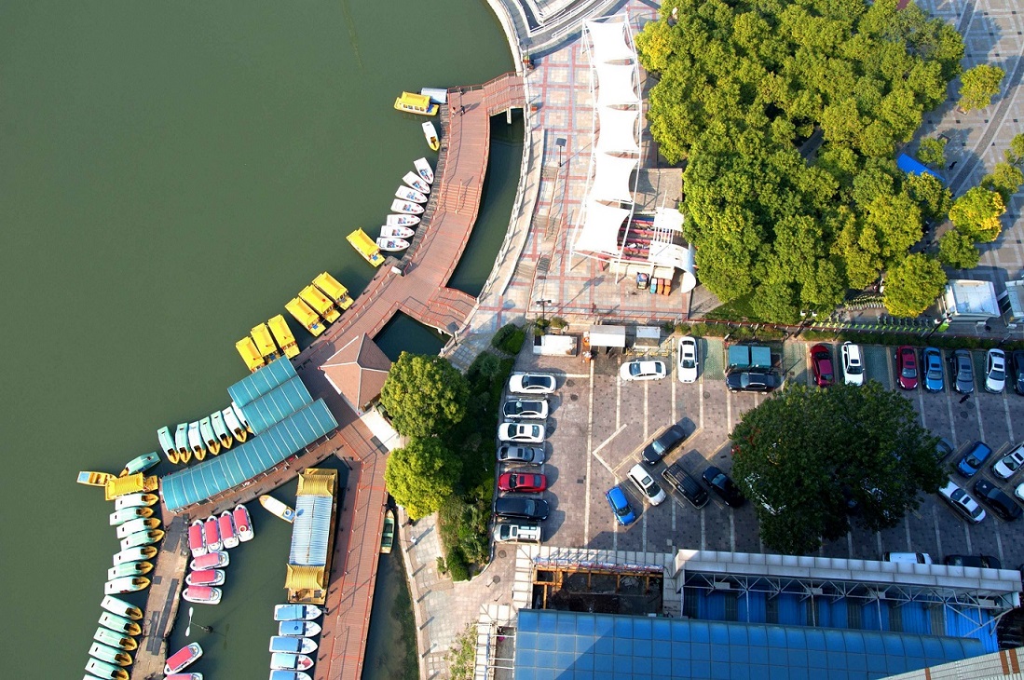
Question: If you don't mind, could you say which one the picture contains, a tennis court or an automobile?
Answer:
automobile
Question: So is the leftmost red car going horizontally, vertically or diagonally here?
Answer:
horizontally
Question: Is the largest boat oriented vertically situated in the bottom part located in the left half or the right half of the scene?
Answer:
left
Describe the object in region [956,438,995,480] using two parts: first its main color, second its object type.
blue car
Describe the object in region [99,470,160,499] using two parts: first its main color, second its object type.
yellow boat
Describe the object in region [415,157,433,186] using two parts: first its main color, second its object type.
white boat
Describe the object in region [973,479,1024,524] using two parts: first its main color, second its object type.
black car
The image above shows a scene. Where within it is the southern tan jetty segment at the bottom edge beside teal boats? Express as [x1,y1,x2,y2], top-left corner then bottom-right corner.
[131,639,168,680]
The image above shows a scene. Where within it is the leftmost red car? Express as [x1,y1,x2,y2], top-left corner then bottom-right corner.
[498,469,547,493]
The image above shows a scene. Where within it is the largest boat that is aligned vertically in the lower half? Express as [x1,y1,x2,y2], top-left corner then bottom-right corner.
[284,466,337,603]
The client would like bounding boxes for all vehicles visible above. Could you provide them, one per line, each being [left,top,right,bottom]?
[603,485,638,527]
[661,461,709,510]
[839,342,867,385]
[810,343,836,388]
[983,348,1009,394]
[956,438,995,480]
[624,462,668,508]
[498,420,544,444]
[677,337,700,384]
[947,479,985,525]
[495,496,549,521]
[494,519,543,545]
[944,549,1003,570]
[640,422,687,465]
[620,358,667,382]
[1006,350,1024,397]
[498,469,547,493]
[881,549,933,565]
[921,347,947,393]
[1010,558,1024,580]
[973,479,1024,524]
[726,370,779,394]
[498,442,545,466]
[894,346,921,390]
[509,372,556,395]
[503,397,549,421]
[990,437,1024,480]
[701,466,740,509]
[950,350,977,395]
